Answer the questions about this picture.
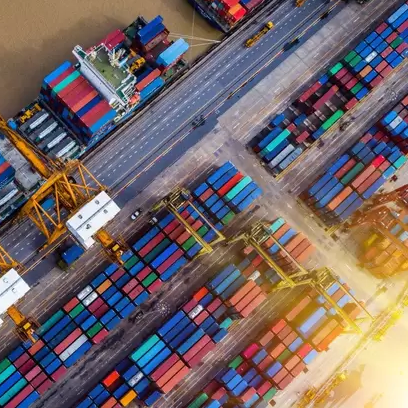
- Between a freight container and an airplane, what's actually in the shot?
freight container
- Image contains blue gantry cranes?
No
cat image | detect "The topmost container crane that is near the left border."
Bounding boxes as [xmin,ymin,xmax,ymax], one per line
[0,122,128,270]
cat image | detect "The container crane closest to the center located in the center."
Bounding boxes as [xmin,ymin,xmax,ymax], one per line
[149,184,226,262]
